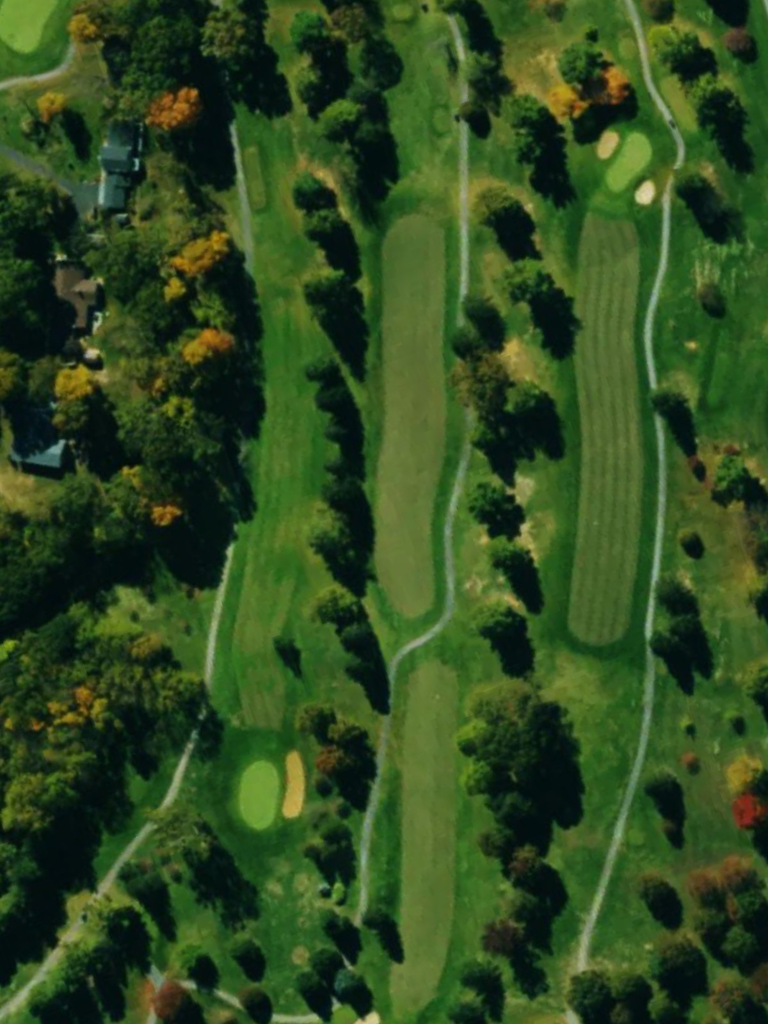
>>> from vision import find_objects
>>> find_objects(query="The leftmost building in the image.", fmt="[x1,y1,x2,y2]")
[11,406,69,471]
